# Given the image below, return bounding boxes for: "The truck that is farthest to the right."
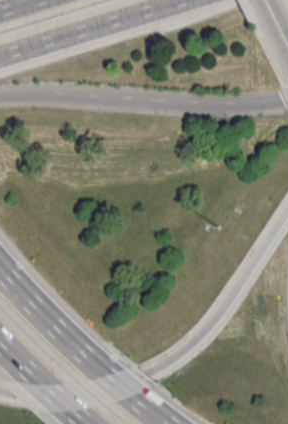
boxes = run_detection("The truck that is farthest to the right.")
[140,388,164,409]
